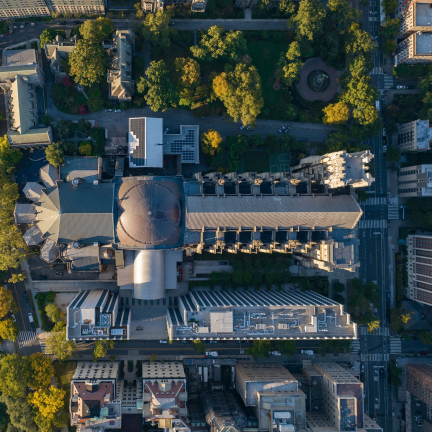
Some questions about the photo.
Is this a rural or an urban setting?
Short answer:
urban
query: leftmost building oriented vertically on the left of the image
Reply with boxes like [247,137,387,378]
[0,40,58,150]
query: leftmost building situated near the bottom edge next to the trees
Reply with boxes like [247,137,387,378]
[69,362,126,432]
